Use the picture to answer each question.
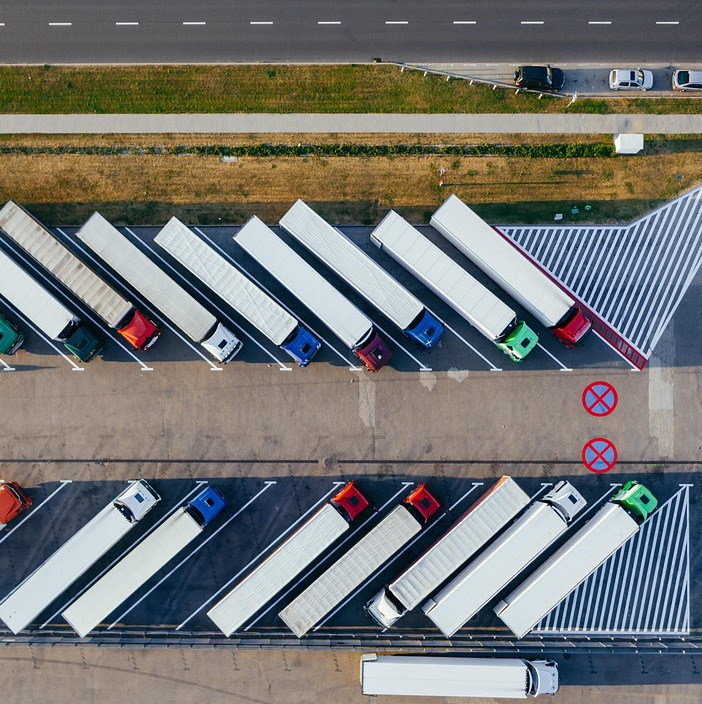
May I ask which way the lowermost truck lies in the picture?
from side to side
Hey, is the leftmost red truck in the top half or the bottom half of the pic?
bottom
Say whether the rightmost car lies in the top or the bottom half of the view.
top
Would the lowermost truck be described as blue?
No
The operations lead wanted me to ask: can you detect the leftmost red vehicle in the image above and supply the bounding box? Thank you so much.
[0,481,40,540]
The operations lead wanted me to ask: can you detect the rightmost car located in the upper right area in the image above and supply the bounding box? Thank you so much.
[670,68,702,94]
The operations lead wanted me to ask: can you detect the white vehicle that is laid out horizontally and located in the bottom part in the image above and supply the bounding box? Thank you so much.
[359,652,553,698]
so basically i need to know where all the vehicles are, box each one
[490,482,657,639]
[207,481,371,637]
[363,474,531,628]
[426,193,593,349]
[233,215,396,372]
[278,482,442,639]
[0,481,40,540]
[359,652,553,698]
[0,248,107,367]
[421,479,586,638]
[278,199,445,352]
[61,481,230,638]
[75,211,245,368]
[368,209,537,362]
[153,216,323,368]
[0,475,164,634]
[514,64,565,93]
[607,65,653,93]
[0,199,163,353]
[670,68,702,94]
